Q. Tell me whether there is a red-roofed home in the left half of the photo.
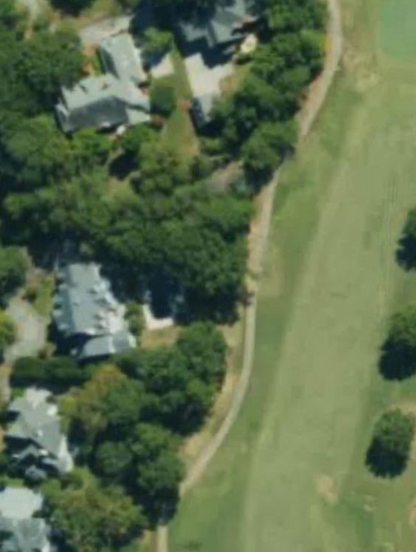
No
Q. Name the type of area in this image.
golf course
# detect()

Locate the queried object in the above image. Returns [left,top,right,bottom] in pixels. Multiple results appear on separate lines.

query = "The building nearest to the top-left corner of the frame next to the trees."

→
[56,30,159,130]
